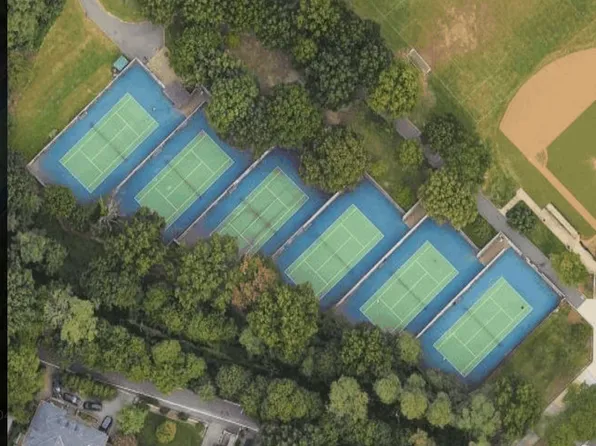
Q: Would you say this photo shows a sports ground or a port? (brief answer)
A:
sports ground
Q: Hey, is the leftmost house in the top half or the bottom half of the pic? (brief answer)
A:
bottom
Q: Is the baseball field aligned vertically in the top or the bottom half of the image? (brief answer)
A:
top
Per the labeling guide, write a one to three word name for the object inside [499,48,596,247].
baseball field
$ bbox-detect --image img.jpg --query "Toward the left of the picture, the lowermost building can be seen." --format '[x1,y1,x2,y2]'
[19,401,108,446]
